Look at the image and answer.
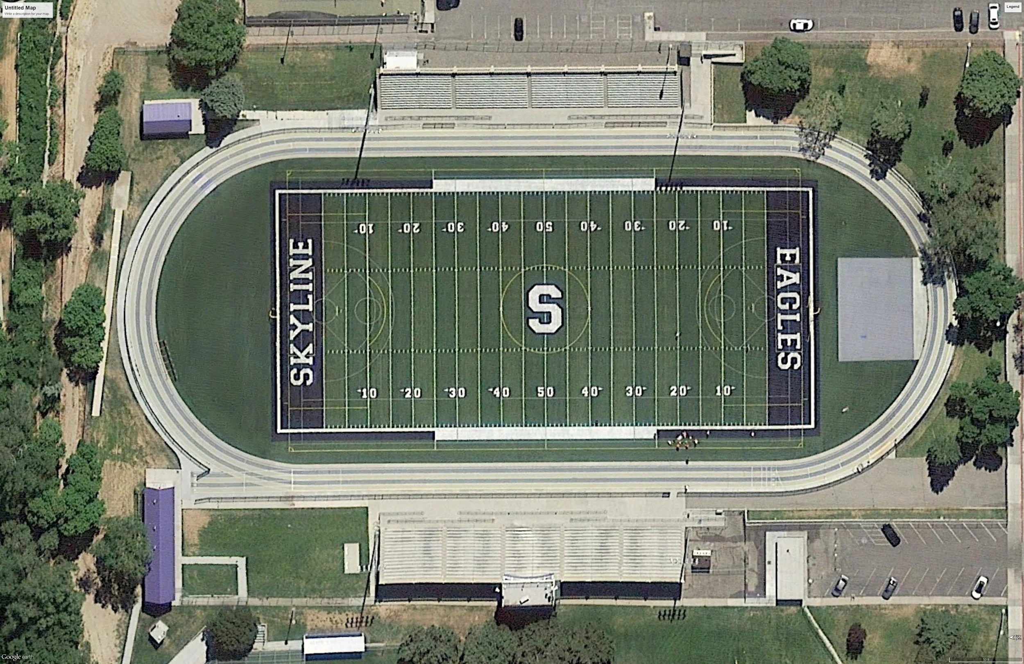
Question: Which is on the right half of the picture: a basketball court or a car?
car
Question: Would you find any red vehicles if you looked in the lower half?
No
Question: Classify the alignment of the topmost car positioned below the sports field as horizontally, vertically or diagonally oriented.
diagonally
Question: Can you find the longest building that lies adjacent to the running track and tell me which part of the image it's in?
bottom left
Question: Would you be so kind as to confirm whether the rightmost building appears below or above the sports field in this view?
below it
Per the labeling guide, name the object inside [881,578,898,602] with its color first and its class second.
gray car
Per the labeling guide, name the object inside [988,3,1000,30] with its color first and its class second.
white vehicle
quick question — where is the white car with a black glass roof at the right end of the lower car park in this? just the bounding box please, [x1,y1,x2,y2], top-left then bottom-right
[971,577,989,601]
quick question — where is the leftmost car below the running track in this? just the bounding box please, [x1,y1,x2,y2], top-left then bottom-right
[831,575,849,599]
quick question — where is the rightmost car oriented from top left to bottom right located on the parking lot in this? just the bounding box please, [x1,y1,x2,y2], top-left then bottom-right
[881,525,901,549]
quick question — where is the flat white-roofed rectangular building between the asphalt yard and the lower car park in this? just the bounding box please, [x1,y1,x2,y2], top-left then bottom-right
[776,533,805,601]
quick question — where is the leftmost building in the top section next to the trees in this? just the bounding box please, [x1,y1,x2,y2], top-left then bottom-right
[143,100,192,134]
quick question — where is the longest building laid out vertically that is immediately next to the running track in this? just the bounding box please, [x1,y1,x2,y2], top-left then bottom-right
[143,484,176,605]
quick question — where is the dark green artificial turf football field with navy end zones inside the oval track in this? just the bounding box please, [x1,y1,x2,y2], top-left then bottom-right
[157,155,919,462]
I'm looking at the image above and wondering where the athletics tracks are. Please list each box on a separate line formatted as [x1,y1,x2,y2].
[125,122,959,494]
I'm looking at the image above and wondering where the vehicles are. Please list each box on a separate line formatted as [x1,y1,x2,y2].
[790,20,813,33]
[513,17,524,42]
[969,9,980,35]
[881,525,901,549]
[831,575,849,599]
[988,3,1000,30]
[881,578,898,602]
[953,7,964,33]
[436,0,460,8]
[971,577,989,601]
